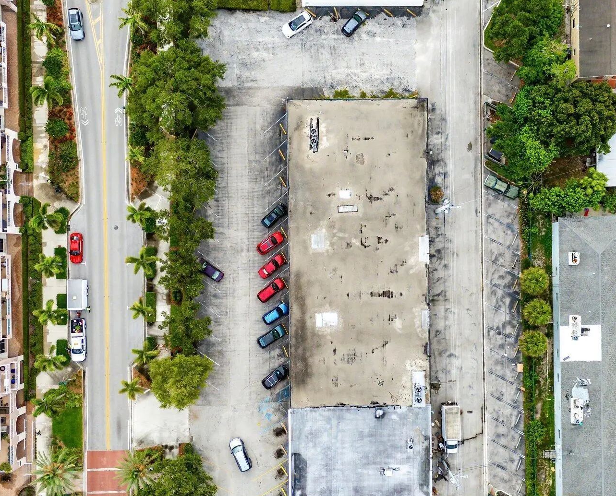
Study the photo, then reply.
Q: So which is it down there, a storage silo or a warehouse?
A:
warehouse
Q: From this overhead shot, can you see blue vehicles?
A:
Yes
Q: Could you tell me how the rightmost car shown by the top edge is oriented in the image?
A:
diagonally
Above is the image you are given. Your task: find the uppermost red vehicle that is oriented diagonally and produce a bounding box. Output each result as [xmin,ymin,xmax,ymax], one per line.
[255,230,285,256]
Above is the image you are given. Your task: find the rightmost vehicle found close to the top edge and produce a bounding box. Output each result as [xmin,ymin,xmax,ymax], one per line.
[341,9,367,37]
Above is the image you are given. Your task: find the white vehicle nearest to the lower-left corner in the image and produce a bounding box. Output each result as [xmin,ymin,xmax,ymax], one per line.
[68,319,87,361]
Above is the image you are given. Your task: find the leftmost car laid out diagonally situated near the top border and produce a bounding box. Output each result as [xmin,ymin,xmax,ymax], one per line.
[282,10,314,38]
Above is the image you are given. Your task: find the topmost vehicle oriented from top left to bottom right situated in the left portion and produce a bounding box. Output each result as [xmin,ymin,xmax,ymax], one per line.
[195,257,226,283]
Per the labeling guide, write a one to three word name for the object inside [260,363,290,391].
car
